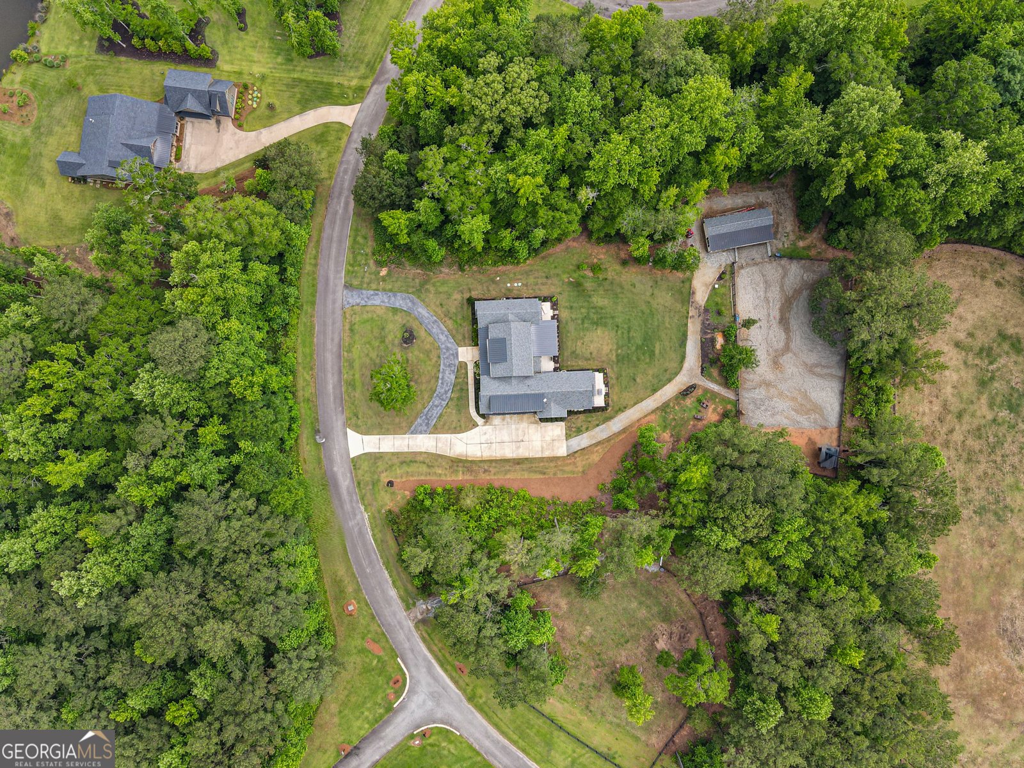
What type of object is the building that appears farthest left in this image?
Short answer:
residential house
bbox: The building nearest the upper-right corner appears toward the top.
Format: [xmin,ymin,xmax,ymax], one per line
[701,208,777,254]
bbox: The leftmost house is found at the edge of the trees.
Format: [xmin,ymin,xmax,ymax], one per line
[56,93,182,181]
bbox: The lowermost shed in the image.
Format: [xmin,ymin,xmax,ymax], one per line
[820,446,845,469]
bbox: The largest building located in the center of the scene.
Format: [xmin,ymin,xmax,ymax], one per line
[475,297,596,418]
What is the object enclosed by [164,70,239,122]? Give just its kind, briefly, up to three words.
building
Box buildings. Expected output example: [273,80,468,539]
[56,93,182,181]
[164,70,239,122]
[701,208,777,254]
[475,297,596,418]
[820,446,845,469]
